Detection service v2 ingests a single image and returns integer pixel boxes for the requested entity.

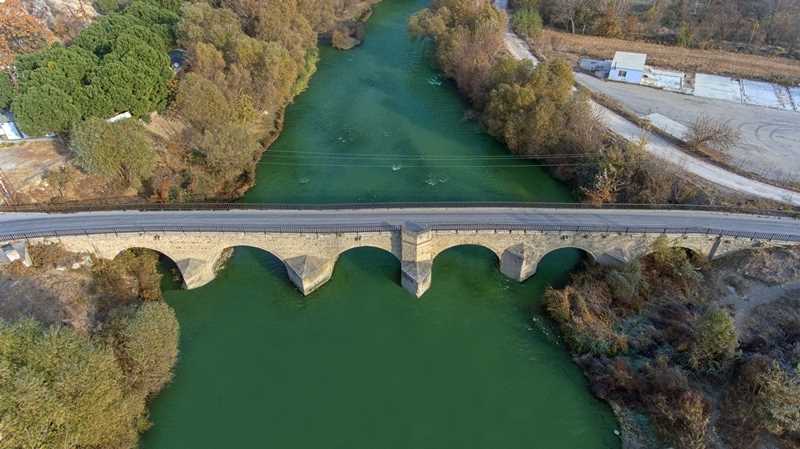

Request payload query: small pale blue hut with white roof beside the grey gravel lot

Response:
[607,52,651,84]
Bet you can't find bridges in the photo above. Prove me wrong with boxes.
[0,201,800,296]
